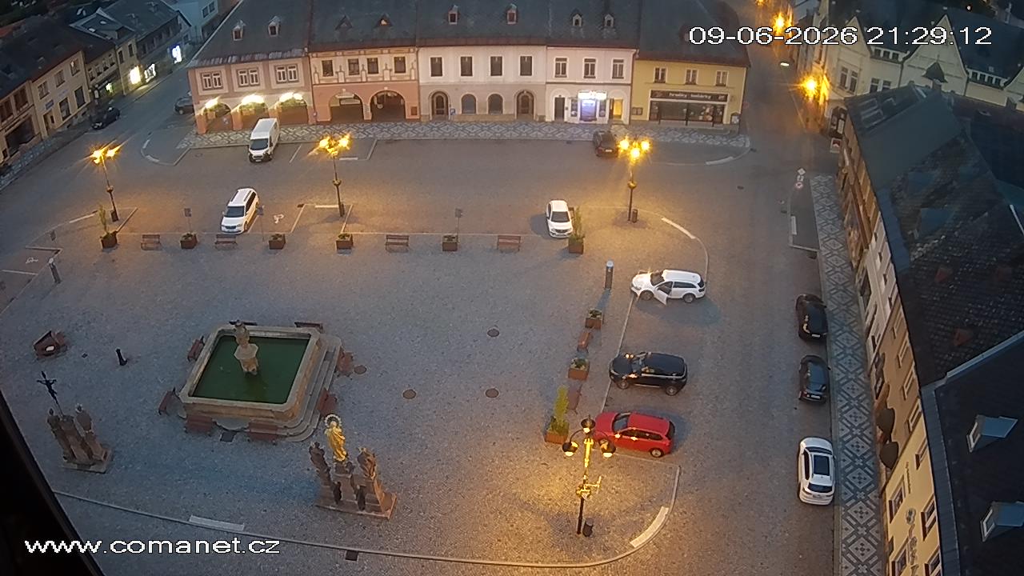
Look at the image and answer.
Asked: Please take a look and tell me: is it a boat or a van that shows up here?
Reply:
van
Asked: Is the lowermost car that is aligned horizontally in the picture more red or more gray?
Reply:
red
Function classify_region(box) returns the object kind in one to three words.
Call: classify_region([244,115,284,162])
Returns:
van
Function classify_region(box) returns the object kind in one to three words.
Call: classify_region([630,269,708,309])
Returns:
car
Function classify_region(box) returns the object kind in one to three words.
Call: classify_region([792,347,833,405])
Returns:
car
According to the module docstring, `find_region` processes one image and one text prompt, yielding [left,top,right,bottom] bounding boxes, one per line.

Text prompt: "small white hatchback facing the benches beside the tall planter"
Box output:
[547,197,576,237]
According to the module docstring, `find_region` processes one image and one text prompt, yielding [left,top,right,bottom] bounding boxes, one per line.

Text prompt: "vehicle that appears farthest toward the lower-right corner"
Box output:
[793,430,839,510]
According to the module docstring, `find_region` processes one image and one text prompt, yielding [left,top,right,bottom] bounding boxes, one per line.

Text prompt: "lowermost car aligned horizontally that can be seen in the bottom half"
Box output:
[589,408,677,458]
